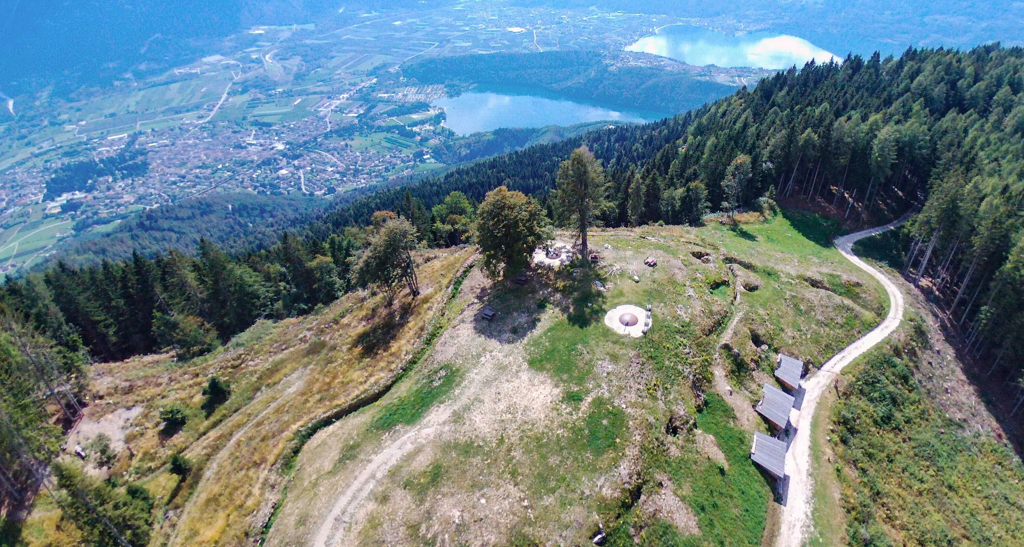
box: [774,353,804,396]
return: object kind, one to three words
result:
shed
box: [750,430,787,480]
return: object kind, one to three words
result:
shed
